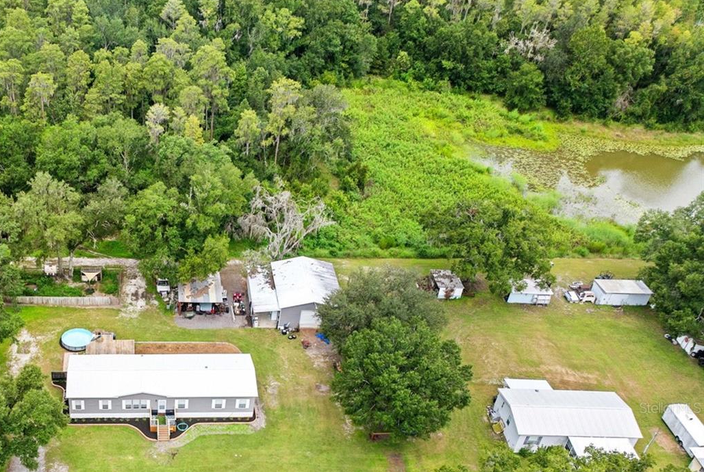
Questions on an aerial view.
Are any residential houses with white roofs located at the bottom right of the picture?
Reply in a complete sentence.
Yes, a residential house with a white roof is visible at the bottom right of the picture.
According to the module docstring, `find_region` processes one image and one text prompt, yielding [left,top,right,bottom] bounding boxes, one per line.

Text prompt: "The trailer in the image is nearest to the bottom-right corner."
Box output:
[664,402,704,450]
